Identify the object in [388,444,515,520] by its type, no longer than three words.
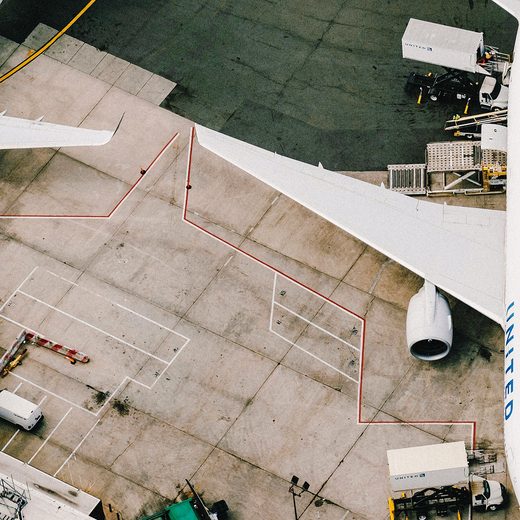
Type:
truck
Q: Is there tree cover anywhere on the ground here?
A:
No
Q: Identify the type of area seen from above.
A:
airport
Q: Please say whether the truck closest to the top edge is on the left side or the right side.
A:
right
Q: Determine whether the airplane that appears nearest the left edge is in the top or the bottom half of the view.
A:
top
